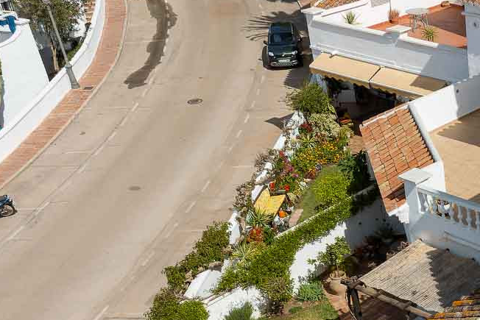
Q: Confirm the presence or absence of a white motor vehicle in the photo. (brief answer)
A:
No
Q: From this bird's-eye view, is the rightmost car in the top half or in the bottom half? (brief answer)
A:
top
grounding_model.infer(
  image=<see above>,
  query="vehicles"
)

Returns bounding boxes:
[257,8,300,62]
[0,192,17,216]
